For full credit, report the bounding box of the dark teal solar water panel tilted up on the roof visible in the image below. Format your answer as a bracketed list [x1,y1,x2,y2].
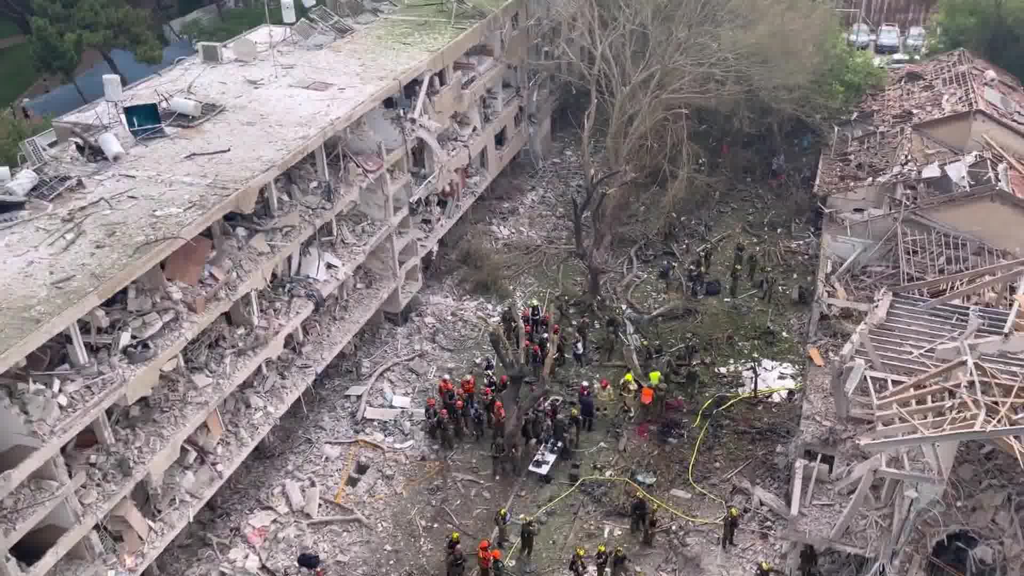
[123,102,169,141]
